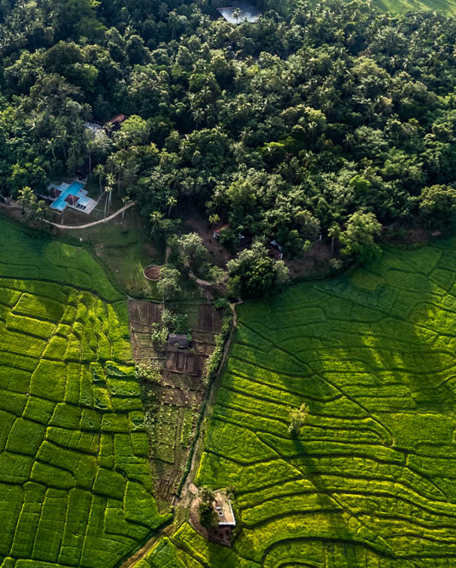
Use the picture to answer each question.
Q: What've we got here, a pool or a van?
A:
pool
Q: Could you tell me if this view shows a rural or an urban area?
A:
rural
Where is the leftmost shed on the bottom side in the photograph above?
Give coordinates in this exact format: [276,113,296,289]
[168,334,190,350]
